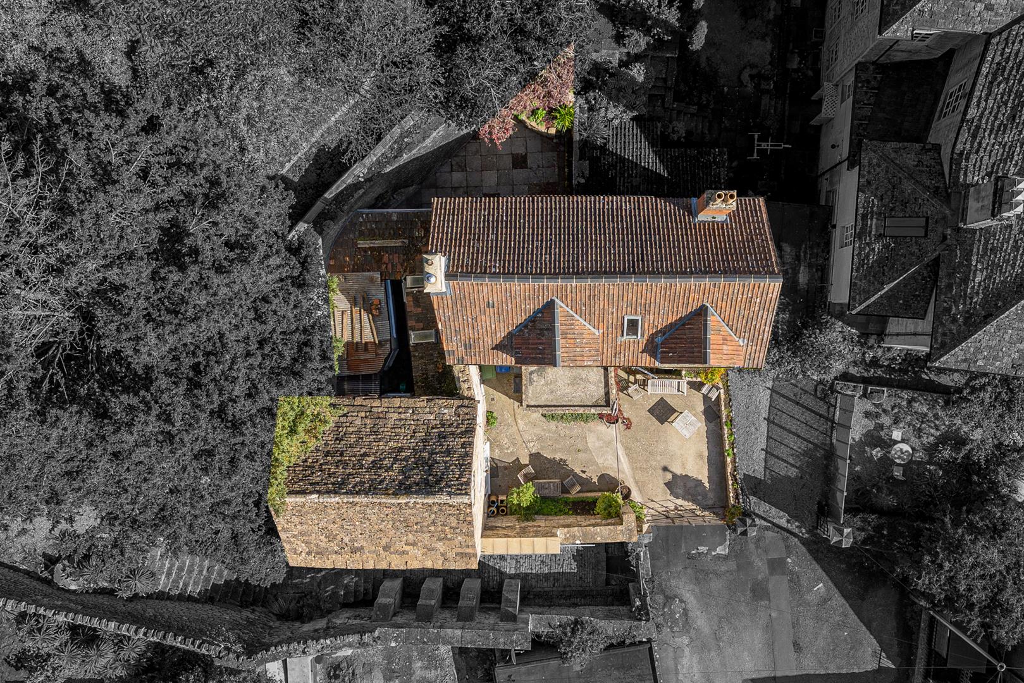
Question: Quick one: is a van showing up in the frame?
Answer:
No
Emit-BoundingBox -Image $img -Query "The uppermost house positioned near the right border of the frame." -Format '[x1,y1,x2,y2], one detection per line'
[812,0,1024,374]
